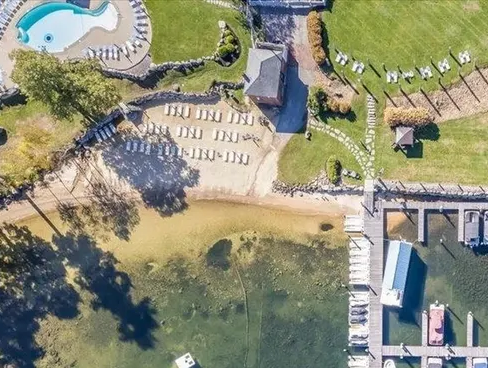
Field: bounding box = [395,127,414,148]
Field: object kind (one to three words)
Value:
gazebo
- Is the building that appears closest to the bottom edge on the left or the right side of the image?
right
